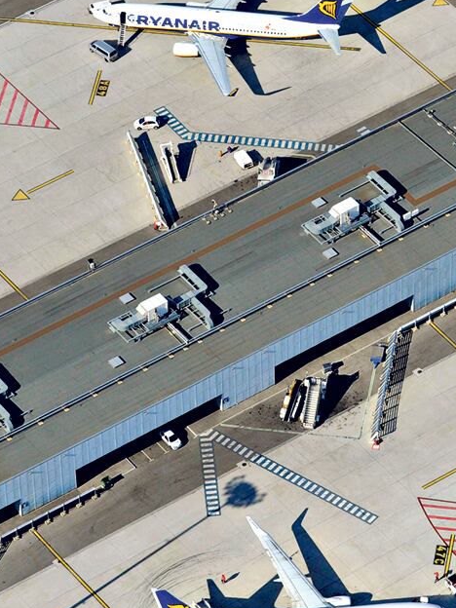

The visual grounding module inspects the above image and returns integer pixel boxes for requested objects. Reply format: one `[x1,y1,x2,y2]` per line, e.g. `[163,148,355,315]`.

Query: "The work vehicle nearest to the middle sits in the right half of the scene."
[281,373,302,417]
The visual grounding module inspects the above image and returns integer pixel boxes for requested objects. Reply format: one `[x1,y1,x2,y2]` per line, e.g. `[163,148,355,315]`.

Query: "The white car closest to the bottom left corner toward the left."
[158,427,185,452]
